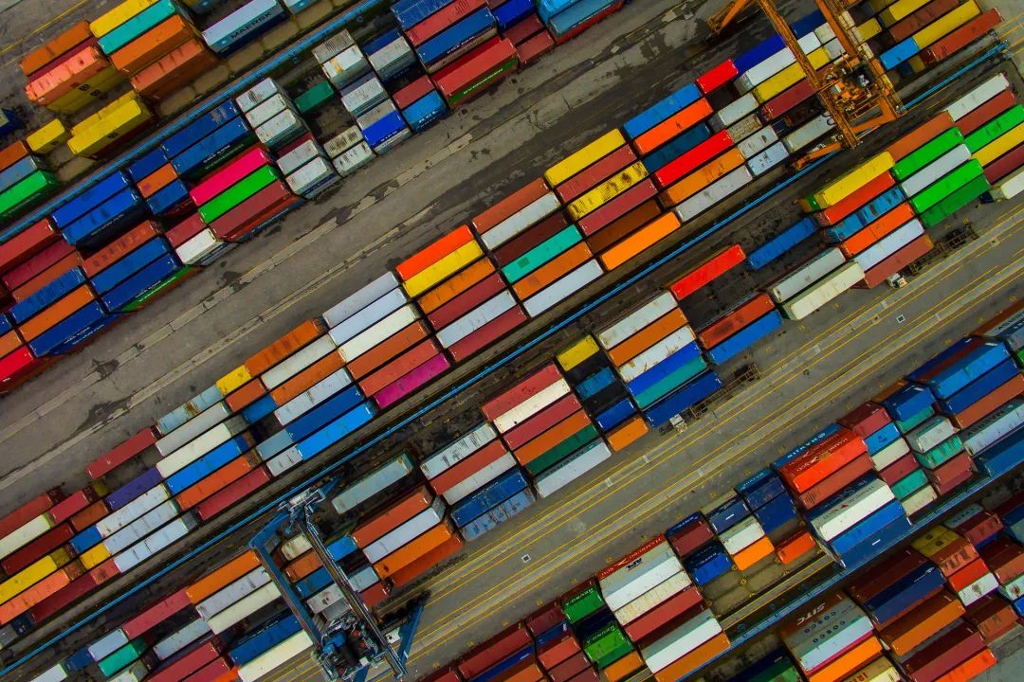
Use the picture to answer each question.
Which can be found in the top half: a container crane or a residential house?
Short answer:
container crane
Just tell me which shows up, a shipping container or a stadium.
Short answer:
shipping container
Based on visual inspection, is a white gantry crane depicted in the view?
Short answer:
No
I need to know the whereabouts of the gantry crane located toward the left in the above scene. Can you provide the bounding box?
[239,466,443,682]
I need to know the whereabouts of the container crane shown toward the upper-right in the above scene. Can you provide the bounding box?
[686,0,920,190]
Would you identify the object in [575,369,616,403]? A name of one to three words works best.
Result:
shipping container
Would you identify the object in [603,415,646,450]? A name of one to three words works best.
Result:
shipping container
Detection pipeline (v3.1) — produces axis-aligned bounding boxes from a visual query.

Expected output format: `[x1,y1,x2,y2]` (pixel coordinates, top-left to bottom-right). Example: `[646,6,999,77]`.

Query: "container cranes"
[686,0,920,190]
[239,466,443,682]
